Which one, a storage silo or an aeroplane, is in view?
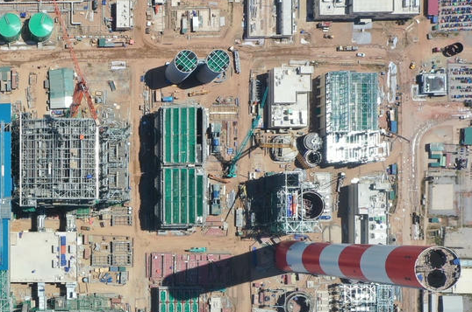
storage silo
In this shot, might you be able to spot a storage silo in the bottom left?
No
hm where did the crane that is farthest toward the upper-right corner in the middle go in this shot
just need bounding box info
[224,87,268,185]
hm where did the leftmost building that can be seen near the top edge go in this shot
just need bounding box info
[115,0,132,32]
